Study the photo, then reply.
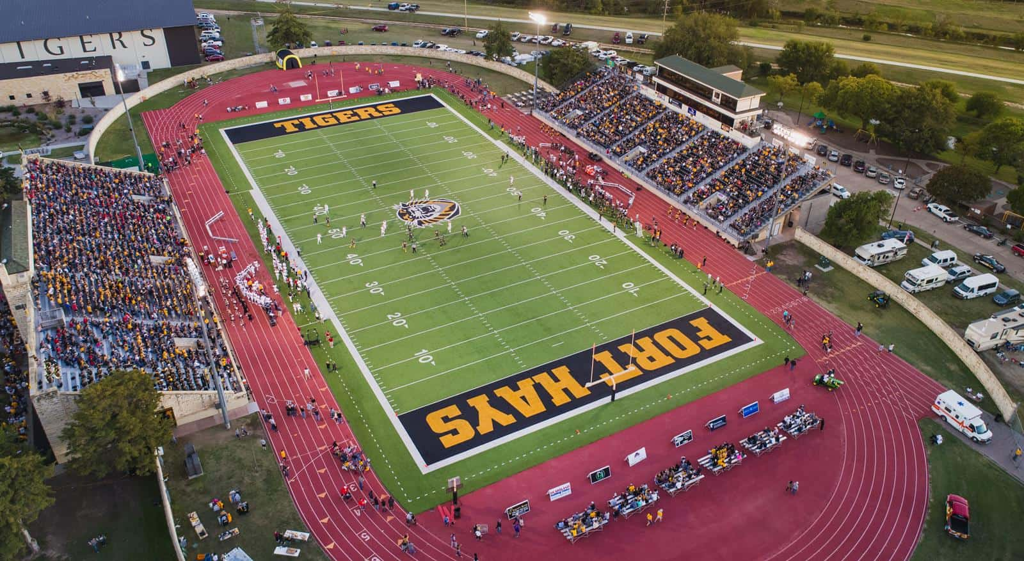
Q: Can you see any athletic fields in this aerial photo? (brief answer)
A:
Yes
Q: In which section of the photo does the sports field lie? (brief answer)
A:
center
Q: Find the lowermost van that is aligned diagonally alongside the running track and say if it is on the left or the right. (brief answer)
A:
right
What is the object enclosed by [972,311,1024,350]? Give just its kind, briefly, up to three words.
camper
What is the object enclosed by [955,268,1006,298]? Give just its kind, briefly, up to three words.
vehicle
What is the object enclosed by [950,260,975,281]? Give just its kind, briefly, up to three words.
car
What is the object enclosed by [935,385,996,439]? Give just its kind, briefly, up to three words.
van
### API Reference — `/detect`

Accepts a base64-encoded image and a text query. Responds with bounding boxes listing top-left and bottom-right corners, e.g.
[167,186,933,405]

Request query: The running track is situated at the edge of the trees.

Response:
[144,61,942,561]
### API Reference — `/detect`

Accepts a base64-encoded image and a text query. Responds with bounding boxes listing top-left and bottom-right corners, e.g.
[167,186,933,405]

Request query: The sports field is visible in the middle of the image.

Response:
[233,107,709,416]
